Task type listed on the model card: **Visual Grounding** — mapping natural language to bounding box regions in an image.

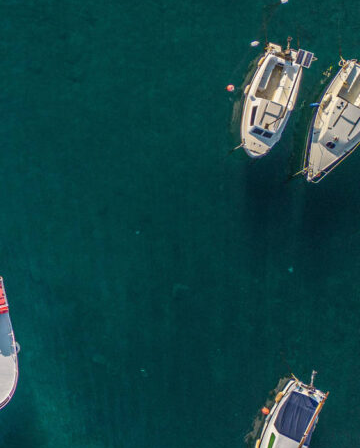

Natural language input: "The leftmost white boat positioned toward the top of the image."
[233,37,318,157]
